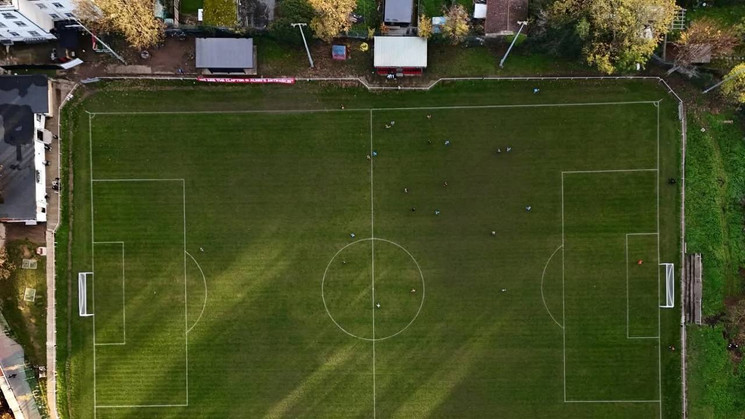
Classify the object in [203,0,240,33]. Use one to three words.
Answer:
shed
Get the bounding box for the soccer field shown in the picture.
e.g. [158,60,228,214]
[59,84,682,419]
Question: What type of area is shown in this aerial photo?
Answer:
sports ground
